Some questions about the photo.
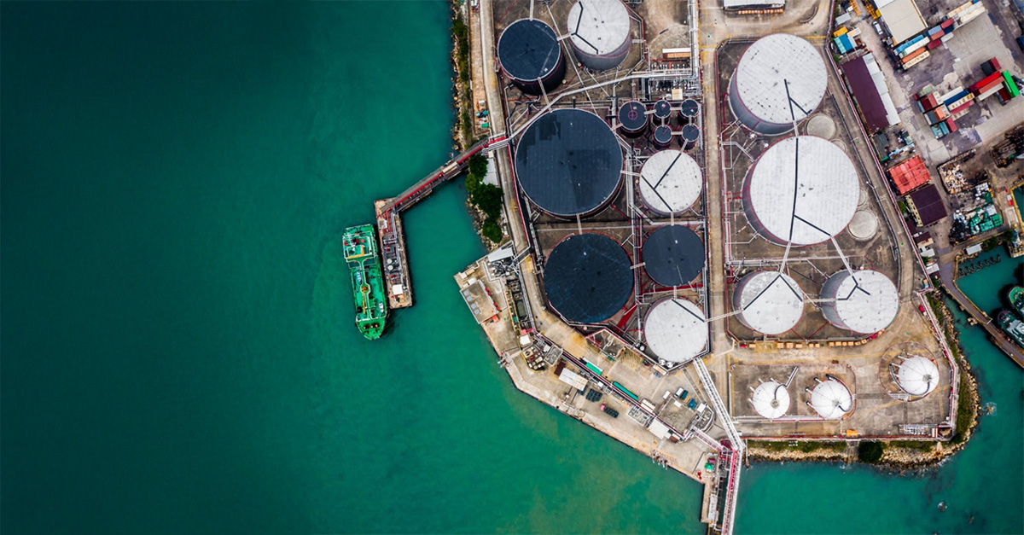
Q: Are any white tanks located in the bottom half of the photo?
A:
Yes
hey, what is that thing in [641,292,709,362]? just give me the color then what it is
white storage tank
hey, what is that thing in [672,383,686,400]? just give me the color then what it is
white vehicle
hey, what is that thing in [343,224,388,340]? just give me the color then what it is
green ship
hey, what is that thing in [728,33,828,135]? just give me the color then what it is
white storage tank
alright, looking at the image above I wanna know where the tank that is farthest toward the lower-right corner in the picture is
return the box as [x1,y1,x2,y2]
[887,350,940,398]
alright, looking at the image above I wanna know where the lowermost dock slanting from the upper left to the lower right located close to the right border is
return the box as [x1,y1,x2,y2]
[942,275,1024,366]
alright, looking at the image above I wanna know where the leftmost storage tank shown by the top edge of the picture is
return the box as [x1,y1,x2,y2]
[498,19,567,95]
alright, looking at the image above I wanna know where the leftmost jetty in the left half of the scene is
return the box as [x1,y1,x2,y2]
[374,198,416,309]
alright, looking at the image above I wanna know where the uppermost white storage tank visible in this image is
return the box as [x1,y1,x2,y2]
[568,0,632,71]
